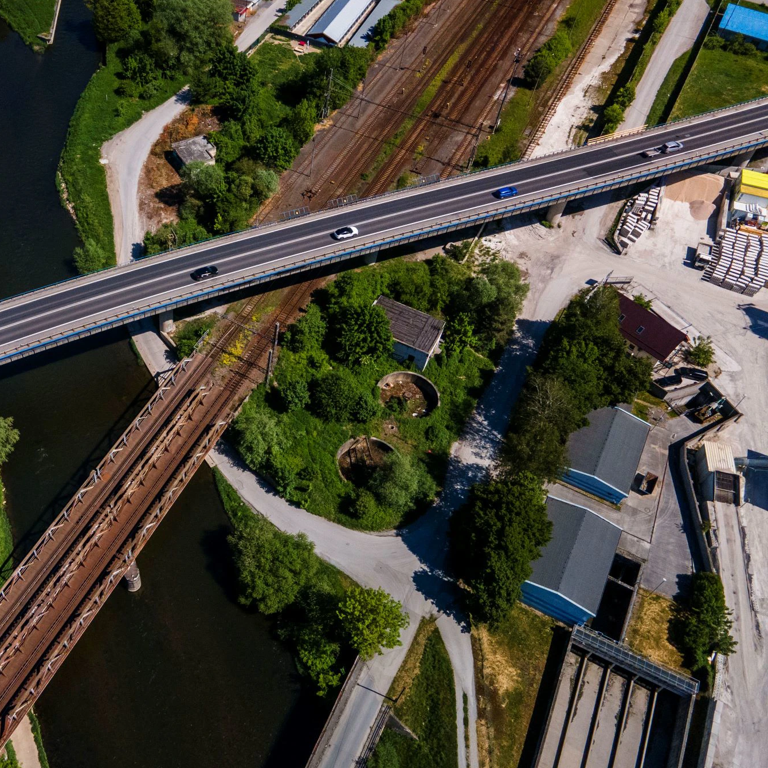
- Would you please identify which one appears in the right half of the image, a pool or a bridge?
bridge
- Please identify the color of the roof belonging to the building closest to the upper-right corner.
blue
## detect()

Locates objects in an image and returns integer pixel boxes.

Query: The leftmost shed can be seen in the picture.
[172,134,216,177]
